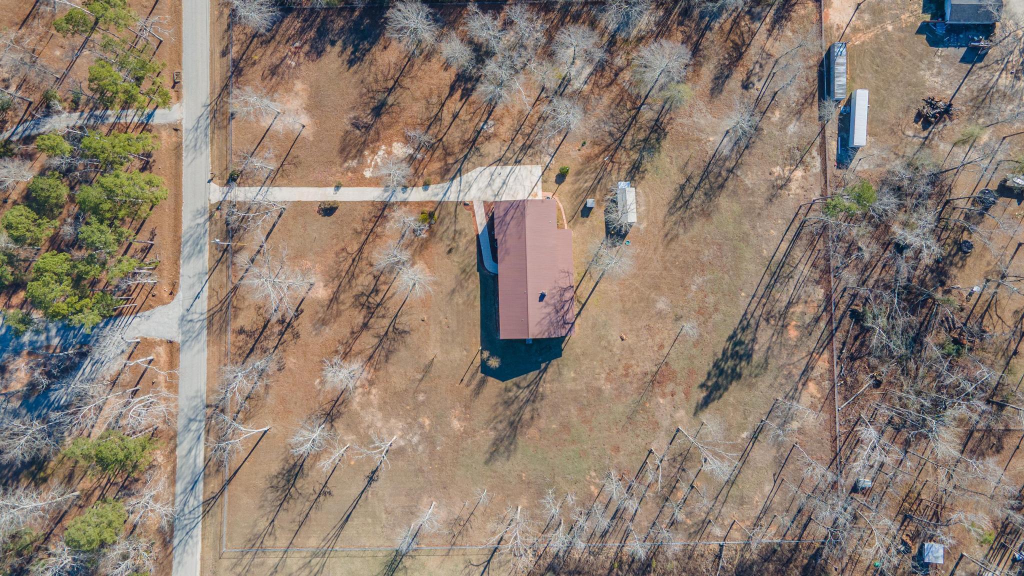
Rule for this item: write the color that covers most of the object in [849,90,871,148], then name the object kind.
white trailer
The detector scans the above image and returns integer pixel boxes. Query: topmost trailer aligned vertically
[829,39,850,101]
